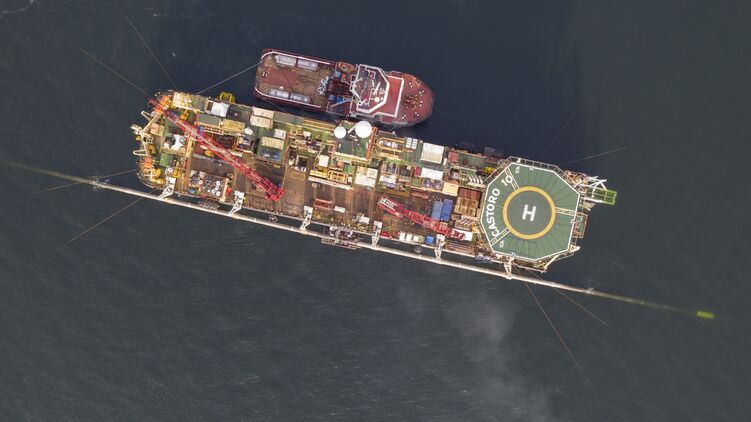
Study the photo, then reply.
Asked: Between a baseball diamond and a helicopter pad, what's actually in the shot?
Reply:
helicopter pad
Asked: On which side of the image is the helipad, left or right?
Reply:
right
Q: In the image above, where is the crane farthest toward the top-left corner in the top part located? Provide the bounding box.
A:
[147,97,287,200]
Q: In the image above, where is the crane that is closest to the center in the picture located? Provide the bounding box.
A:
[373,196,466,239]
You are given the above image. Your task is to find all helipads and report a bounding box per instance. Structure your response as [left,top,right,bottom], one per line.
[479,155,587,261]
